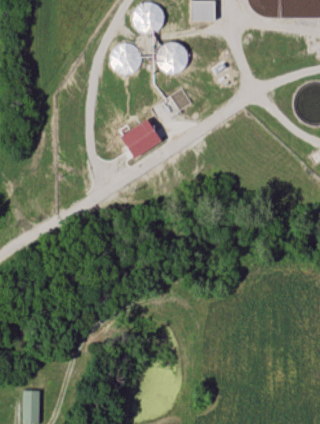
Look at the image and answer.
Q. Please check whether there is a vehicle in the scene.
No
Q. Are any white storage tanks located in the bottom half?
No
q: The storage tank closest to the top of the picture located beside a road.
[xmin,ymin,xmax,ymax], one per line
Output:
[132,0,166,34]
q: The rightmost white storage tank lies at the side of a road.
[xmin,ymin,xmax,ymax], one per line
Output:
[157,42,190,75]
